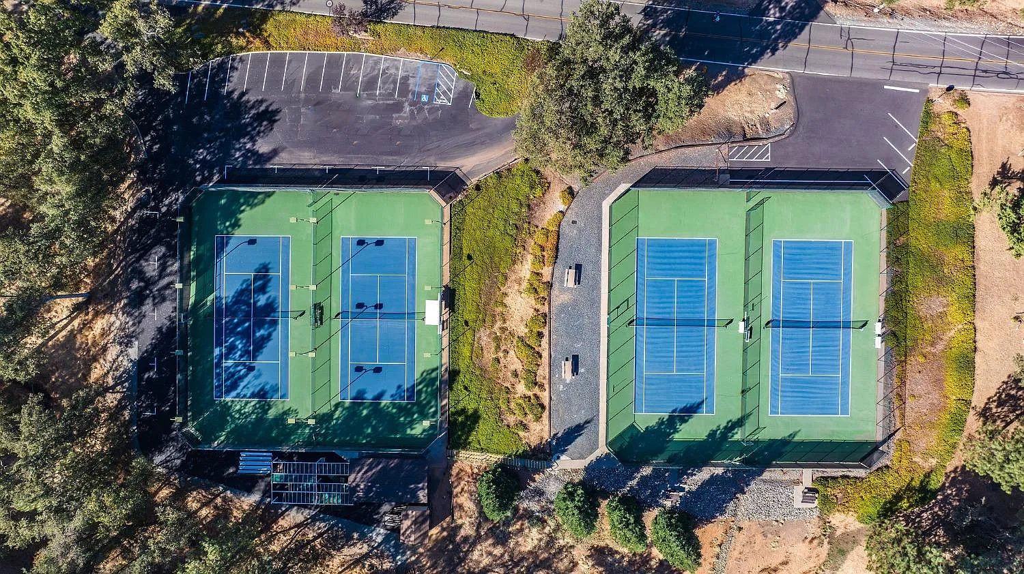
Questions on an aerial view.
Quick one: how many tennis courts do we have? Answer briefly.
four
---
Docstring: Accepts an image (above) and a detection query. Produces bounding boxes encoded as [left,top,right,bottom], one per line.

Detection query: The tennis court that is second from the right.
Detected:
[606,189,746,460]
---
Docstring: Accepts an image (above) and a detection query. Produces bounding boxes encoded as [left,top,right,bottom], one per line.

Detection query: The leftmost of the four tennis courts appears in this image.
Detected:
[190,191,317,444]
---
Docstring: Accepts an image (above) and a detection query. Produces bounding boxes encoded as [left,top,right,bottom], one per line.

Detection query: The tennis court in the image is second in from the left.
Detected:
[316,191,442,444]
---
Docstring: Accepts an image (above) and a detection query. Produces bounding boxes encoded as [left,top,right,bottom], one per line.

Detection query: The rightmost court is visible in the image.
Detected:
[742,190,881,461]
